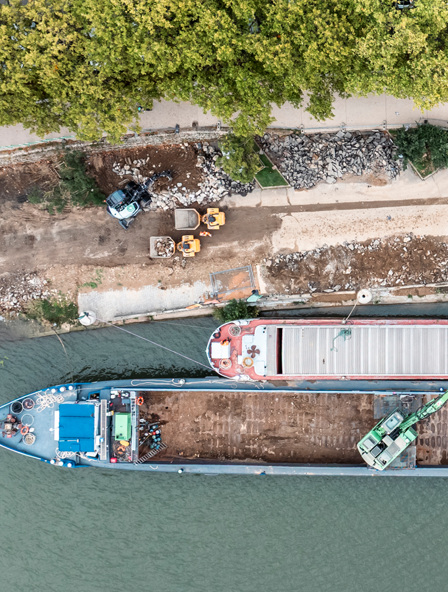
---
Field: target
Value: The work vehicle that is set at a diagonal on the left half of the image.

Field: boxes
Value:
[91,160,166,233]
